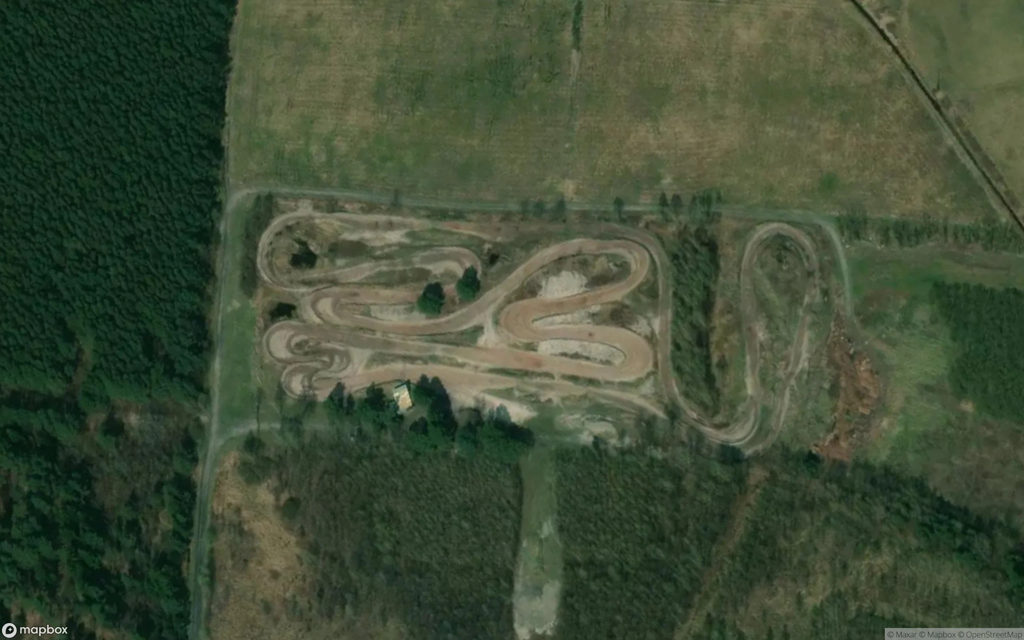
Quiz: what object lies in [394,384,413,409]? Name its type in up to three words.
shed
